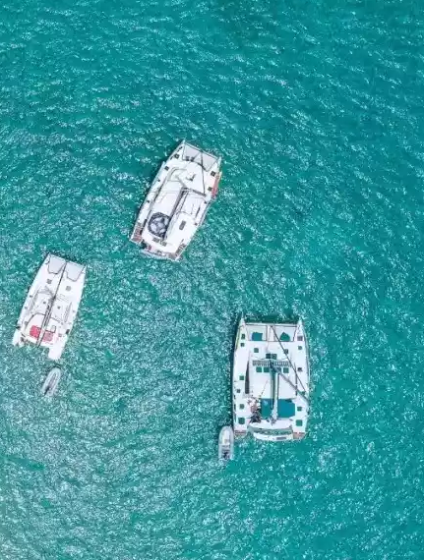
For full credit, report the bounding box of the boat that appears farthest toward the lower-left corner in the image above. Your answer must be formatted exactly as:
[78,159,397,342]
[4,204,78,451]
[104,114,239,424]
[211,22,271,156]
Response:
[40,367,58,399]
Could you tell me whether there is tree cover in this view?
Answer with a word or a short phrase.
No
